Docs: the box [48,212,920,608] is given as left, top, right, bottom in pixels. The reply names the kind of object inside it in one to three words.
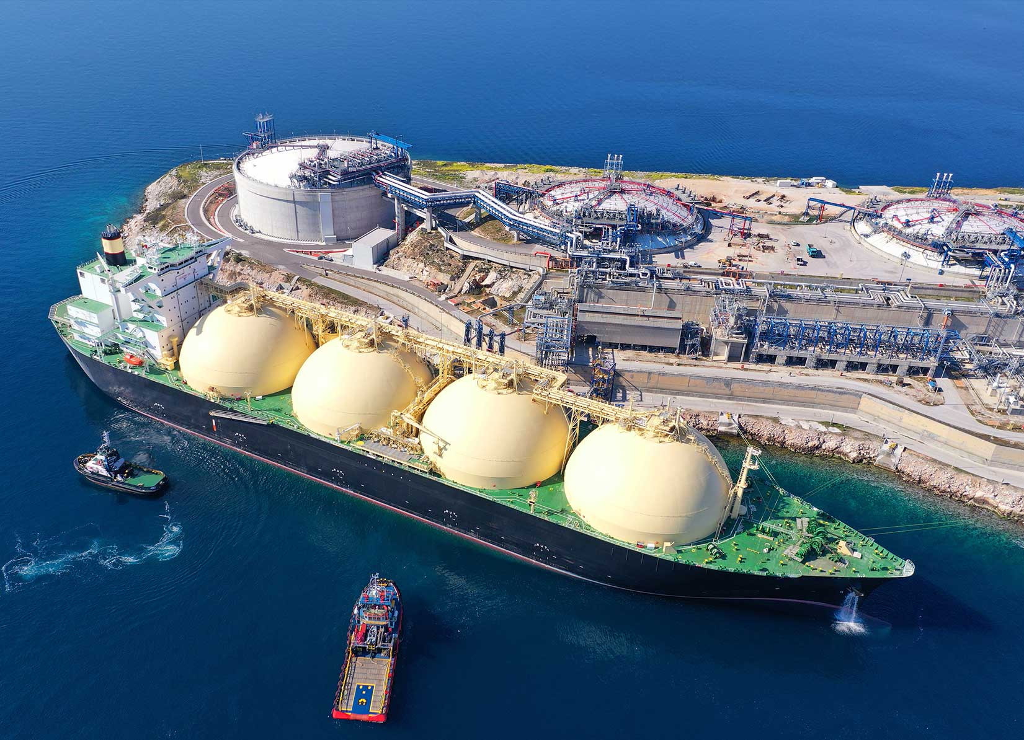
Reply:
ship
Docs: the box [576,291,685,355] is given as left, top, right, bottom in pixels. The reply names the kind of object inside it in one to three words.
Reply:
building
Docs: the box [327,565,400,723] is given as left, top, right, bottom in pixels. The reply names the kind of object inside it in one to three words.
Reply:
boat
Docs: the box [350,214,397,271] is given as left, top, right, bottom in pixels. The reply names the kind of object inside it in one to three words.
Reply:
shed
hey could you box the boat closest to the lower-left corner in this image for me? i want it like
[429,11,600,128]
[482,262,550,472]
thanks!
[69,420,173,491]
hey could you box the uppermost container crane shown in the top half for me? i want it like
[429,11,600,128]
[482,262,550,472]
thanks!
[371,126,412,175]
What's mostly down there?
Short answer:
water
